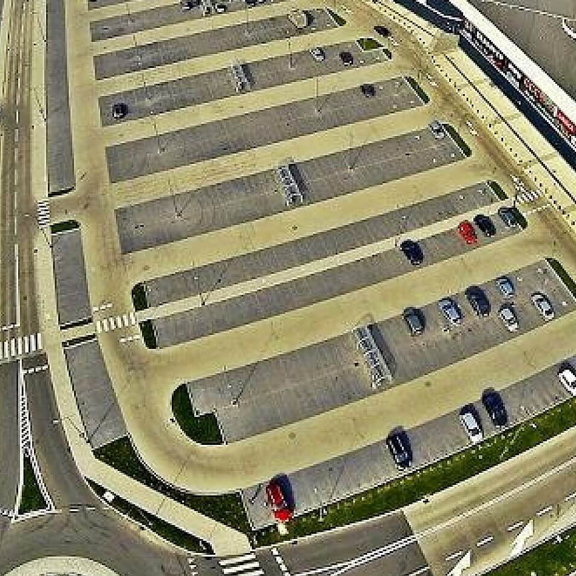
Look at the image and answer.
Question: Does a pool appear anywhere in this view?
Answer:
No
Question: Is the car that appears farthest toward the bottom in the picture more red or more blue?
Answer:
red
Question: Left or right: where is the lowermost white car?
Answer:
right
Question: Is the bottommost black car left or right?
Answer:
right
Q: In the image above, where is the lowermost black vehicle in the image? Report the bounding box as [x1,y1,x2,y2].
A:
[385,429,418,472]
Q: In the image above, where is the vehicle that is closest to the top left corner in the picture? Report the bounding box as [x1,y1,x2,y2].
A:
[113,102,125,120]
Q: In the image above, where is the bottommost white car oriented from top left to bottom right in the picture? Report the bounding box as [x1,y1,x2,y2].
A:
[456,409,488,445]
